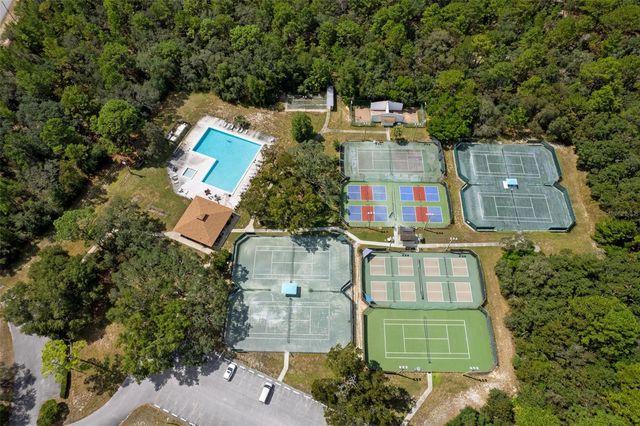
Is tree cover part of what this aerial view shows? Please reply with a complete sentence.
Yes, some tree cover is visible.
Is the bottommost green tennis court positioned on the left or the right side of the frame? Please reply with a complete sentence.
The bottommost green tennis court is on the right side of the image.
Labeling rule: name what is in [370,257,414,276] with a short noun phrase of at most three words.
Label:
sports court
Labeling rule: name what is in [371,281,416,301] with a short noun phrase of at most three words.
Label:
sports court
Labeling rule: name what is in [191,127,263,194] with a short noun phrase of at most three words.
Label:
swimming pool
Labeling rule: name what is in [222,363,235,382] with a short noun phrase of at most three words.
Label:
vehicle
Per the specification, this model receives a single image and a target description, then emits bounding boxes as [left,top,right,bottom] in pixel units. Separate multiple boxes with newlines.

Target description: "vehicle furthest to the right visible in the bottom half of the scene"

[258,382,272,405]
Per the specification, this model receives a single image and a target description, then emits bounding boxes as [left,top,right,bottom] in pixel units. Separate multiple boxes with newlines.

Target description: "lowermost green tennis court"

[364,305,494,372]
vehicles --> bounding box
[258,382,272,405]
[222,363,235,382]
